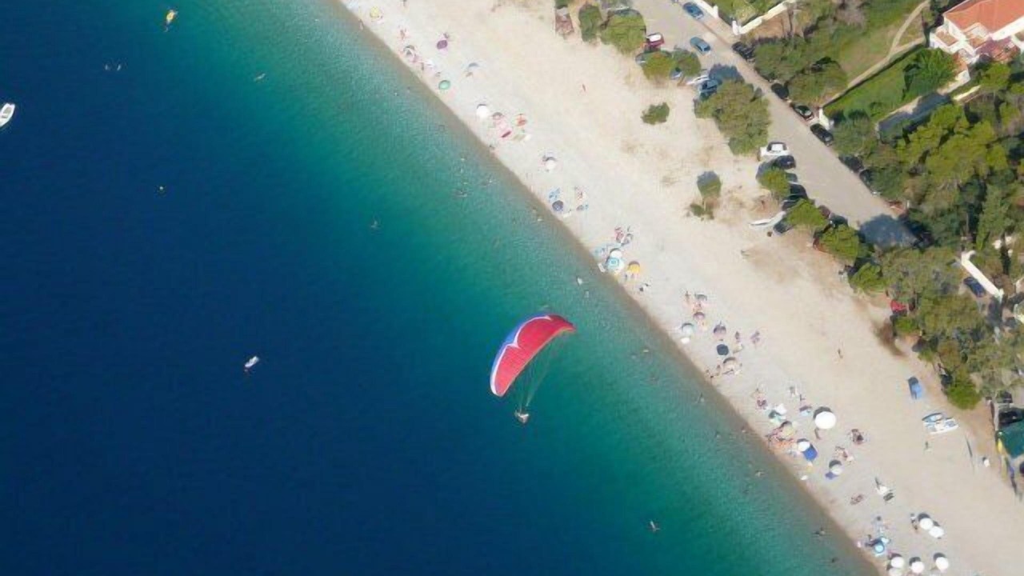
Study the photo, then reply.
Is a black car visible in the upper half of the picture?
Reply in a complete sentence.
Yes, a black car shows up in the upper half of the picture.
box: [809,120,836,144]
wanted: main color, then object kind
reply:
black car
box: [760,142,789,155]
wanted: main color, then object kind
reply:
white vehicle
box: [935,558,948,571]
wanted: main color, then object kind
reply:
white umbrella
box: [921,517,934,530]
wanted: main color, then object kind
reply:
white umbrella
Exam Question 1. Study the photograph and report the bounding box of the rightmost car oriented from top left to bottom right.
[963,271,989,298]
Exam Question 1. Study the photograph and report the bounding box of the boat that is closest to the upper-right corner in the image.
[752,209,786,224]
